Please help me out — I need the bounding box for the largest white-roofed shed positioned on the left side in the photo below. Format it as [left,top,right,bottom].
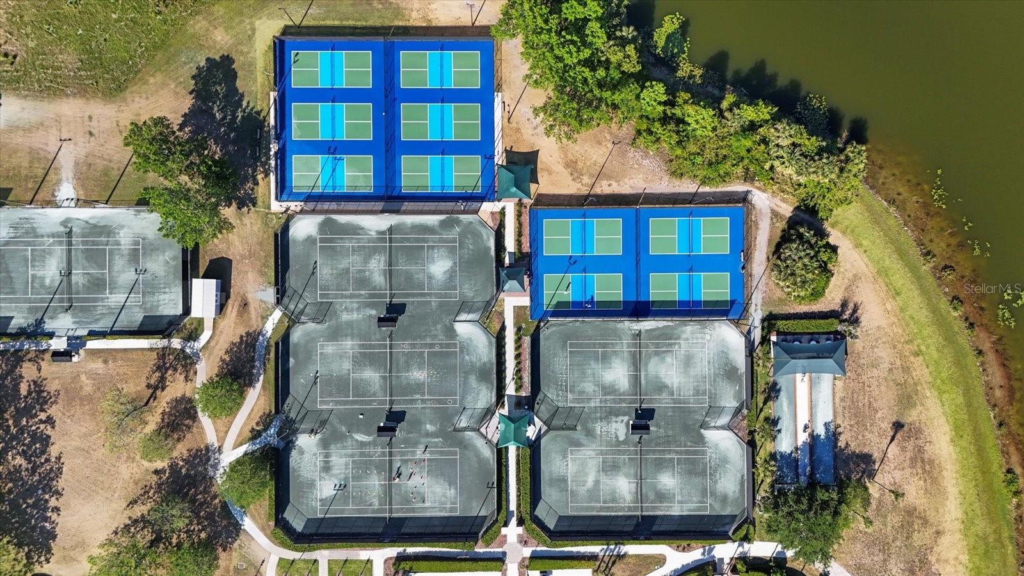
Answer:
[192,279,226,318]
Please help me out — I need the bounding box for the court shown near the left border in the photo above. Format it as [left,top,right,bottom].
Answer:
[0,233,141,310]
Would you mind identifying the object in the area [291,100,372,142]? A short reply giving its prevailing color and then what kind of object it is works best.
green sports court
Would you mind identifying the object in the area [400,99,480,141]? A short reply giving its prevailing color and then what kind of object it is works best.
green sports court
